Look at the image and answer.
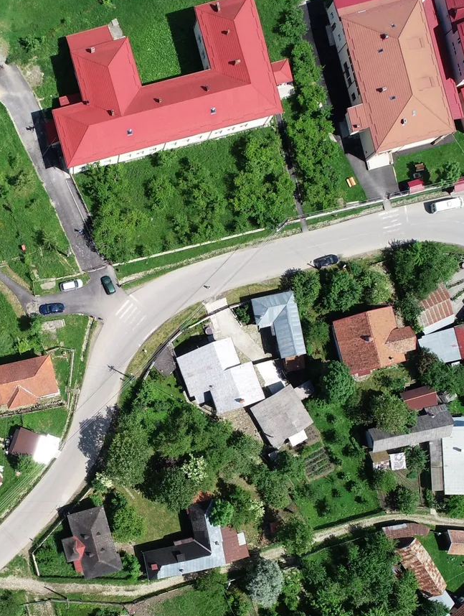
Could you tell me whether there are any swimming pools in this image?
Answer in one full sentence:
No, there appears to be no swimming pool in this shot.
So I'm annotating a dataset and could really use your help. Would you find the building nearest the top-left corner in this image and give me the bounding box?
[45,0,294,175]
